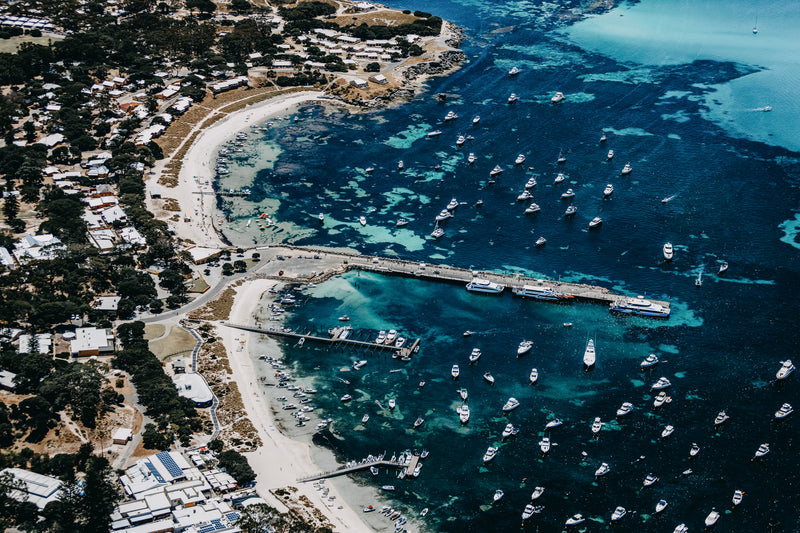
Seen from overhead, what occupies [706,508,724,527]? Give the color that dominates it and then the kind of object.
white boat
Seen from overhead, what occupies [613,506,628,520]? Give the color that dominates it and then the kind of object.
white boat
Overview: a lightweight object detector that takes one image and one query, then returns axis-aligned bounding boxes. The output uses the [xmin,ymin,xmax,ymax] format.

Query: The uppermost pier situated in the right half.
[338,256,669,306]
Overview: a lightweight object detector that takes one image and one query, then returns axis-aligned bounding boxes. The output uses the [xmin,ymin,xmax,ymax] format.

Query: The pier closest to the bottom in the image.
[298,454,420,484]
